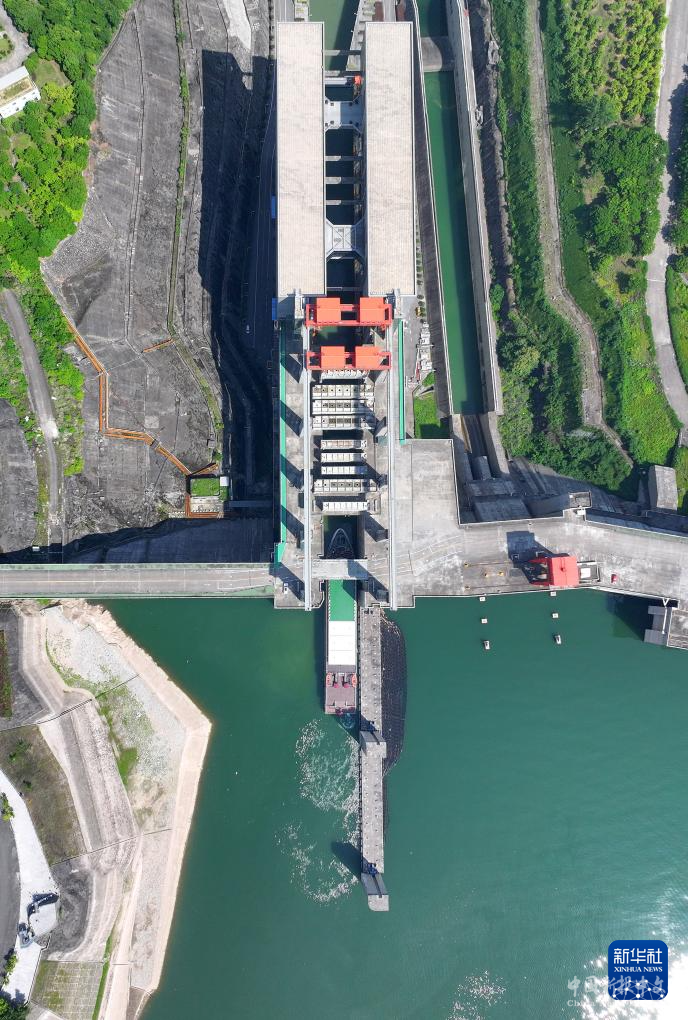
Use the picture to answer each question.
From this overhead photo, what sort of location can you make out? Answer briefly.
port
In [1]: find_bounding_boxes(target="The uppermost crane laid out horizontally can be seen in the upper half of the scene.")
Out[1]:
[305,298,392,327]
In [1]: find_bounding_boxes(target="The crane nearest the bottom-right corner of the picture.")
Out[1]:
[522,556,601,586]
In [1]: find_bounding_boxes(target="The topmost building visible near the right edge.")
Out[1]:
[646,466,678,512]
